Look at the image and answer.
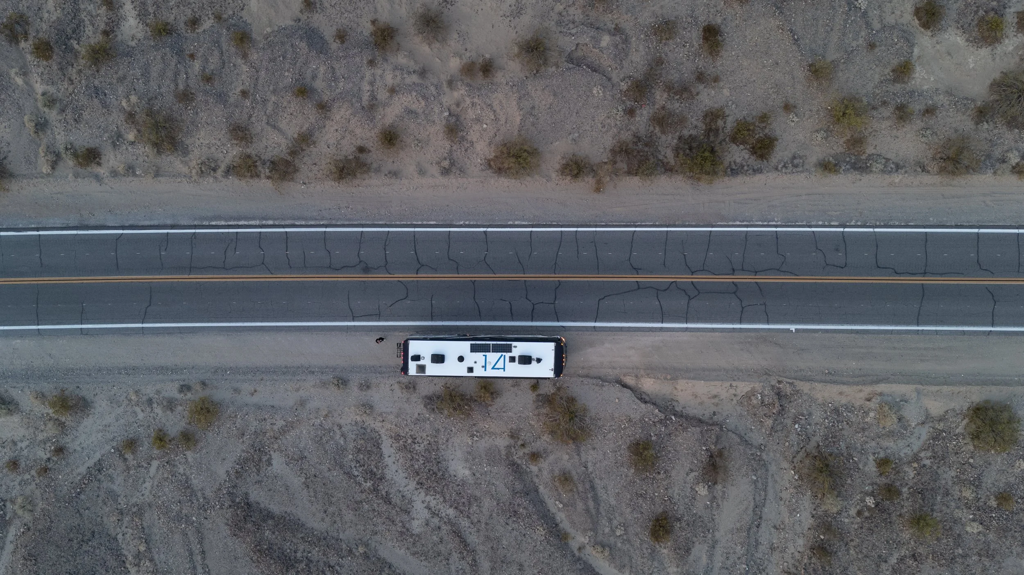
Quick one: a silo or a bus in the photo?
bus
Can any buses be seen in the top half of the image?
No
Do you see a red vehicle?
No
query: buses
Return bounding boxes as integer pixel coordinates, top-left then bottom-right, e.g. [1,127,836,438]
[397,335,568,381]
